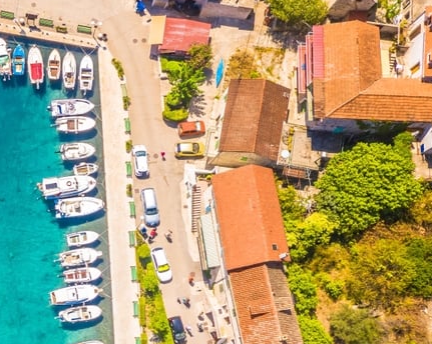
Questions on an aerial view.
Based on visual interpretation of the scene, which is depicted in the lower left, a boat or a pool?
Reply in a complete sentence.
What appears in the lower left is a boat.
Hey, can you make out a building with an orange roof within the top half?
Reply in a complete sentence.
Yes, there is a building with an orange roof within the top half.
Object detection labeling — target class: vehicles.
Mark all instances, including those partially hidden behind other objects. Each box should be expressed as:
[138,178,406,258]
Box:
[177,120,205,139]
[150,245,173,283]
[174,141,205,159]
[140,188,161,228]
[131,144,151,180]
[167,313,190,344]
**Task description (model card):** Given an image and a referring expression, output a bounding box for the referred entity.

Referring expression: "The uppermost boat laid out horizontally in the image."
[48,98,100,118]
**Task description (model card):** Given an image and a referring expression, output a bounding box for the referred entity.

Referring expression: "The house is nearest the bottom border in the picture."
[218,265,302,344]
